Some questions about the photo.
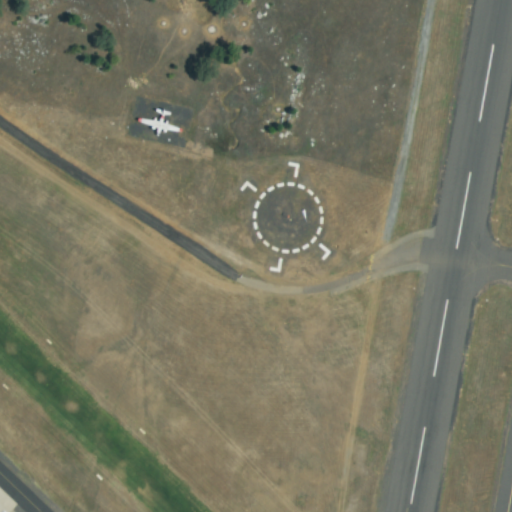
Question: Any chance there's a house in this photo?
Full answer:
No, the photo shows no house.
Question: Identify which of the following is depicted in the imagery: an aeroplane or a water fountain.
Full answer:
There is an aeroplane in the scene.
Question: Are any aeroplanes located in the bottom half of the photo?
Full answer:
No, looking in the bottom half of the photo, there is no aeroplane.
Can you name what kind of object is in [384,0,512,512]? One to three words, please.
runway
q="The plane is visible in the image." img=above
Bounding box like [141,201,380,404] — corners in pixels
[138,108,183,136]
